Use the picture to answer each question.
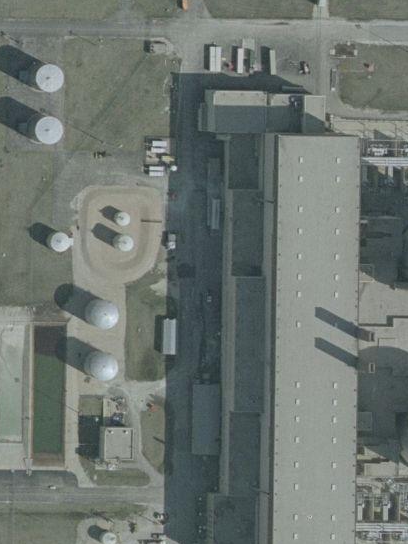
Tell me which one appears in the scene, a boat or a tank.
tank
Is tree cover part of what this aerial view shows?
No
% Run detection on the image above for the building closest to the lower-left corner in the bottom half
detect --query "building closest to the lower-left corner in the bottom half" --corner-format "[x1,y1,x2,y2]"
[99,428,134,460]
